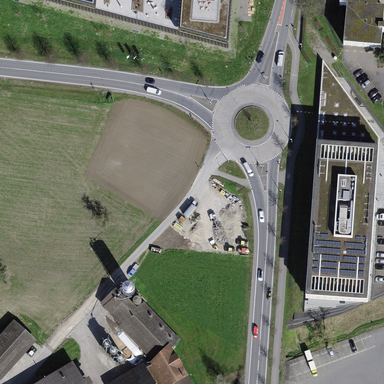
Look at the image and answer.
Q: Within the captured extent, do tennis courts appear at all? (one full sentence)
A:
No, I can't see a single tennis court in this photo.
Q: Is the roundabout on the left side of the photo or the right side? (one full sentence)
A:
It is on the right.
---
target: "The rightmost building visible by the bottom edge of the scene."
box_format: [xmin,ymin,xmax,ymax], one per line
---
[146,345,197,384]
